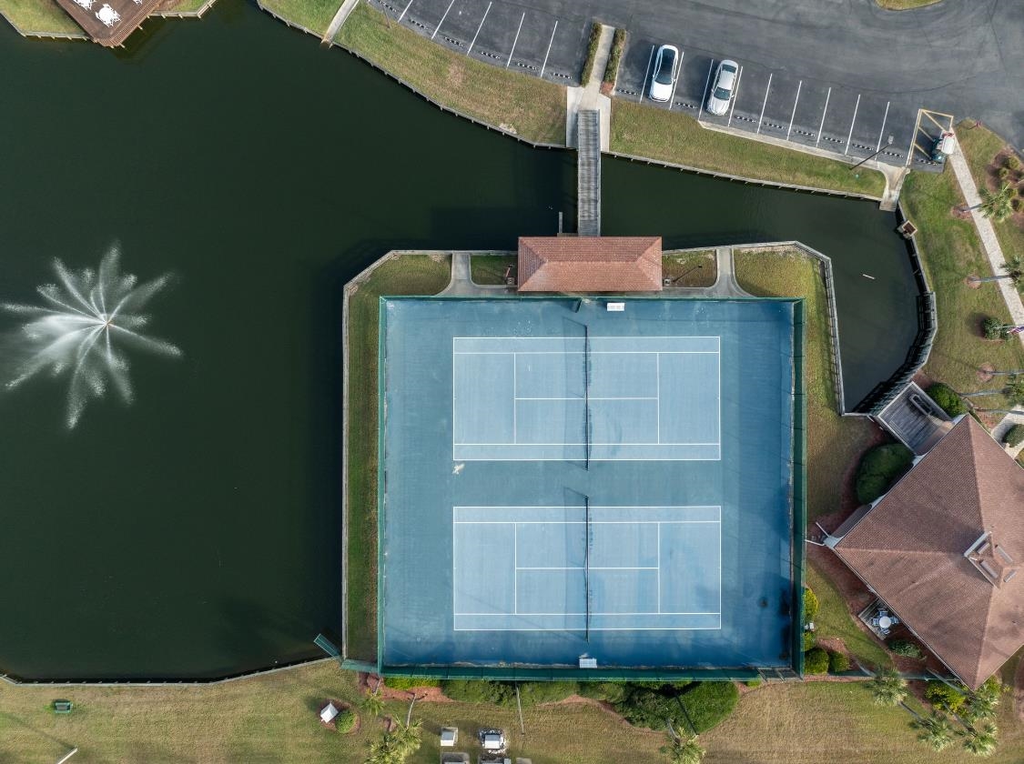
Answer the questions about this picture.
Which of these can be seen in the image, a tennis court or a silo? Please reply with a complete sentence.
It is a tennis court that can be seen here.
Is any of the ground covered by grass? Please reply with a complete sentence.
Yes, grass shows up in the scene.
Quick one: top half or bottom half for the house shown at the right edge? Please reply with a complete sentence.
It is in the bottom half that the house shown at the right edge appears.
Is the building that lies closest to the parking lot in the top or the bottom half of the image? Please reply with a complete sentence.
You can find the building that lies closest to the parking lot in the top half.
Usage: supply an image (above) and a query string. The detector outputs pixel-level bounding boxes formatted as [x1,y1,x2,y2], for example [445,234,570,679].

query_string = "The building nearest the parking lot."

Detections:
[517,236,663,295]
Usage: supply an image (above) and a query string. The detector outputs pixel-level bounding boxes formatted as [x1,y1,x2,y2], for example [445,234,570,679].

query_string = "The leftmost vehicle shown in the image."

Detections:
[650,43,680,104]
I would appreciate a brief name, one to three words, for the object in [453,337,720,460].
tennis court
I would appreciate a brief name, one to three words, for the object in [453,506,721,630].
tennis court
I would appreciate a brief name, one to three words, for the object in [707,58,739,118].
car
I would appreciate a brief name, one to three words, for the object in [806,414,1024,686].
house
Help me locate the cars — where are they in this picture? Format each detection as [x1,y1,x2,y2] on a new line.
[707,58,739,118]
[650,43,680,104]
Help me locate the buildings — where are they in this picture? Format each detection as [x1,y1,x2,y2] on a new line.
[321,703,339,722]
[806,414,1024,686]
[517,236,663,295]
